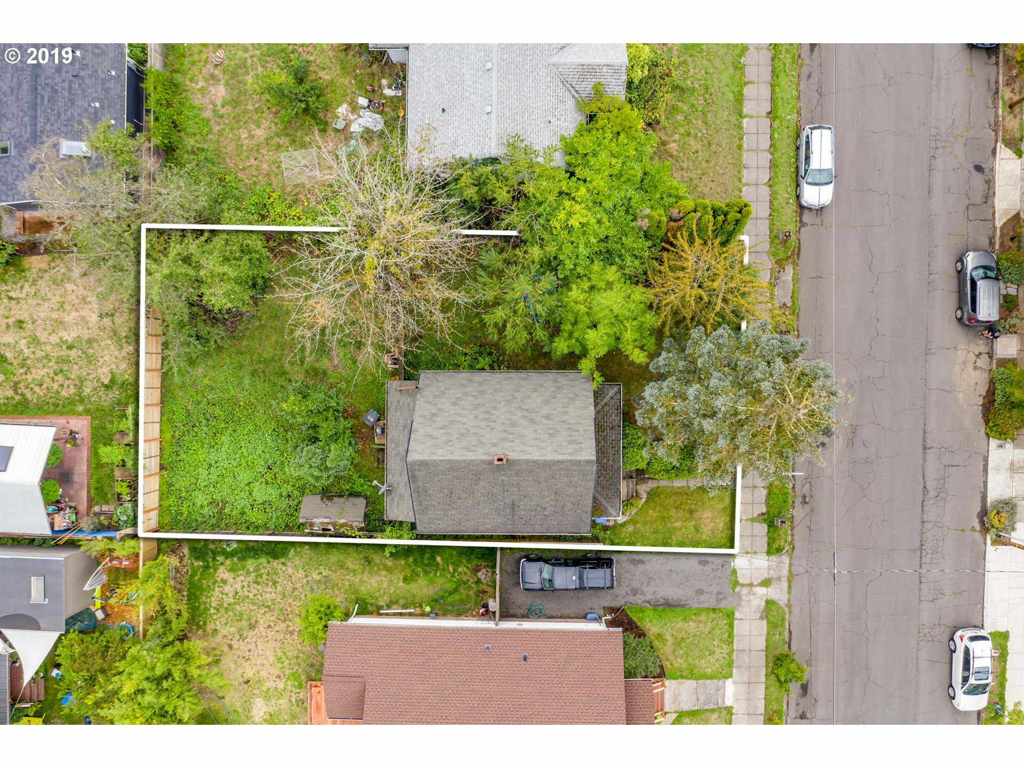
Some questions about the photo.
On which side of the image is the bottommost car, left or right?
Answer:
right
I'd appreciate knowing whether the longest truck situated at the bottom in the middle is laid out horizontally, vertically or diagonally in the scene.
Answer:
horizontally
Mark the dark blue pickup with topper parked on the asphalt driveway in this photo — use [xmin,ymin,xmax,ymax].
[519,553,614,595]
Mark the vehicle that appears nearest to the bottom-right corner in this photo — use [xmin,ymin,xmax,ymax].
[946,628,996,712]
